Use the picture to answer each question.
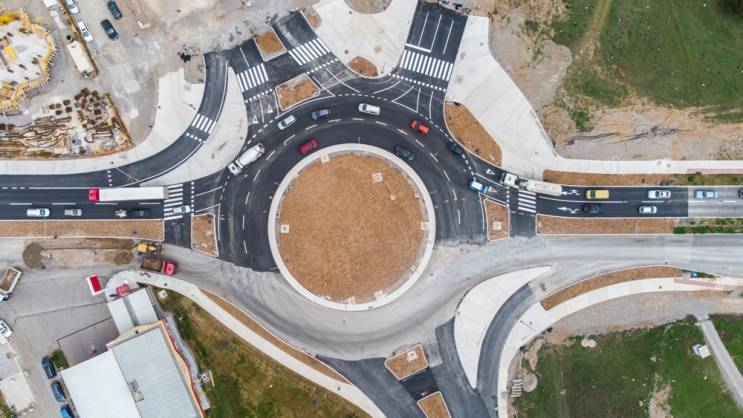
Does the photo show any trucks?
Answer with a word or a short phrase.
Yes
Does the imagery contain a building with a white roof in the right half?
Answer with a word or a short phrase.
No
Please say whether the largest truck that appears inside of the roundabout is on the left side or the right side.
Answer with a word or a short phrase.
left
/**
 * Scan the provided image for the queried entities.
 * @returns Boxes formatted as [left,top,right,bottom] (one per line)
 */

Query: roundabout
[212,86,490,311]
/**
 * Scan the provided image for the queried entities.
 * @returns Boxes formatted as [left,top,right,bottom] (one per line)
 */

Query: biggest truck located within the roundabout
[225,144,268,179]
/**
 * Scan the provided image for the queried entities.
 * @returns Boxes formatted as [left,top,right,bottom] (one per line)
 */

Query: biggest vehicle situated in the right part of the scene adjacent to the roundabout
[496,171,562,195]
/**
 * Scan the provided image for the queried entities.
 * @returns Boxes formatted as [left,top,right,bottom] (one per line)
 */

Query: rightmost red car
[409,119,431,135]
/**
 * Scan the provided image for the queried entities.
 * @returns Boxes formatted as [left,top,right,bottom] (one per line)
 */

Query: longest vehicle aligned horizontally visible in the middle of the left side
[90,187,170,203]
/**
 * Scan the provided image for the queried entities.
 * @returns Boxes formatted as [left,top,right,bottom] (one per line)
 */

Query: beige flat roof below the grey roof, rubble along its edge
[0,374,39,411]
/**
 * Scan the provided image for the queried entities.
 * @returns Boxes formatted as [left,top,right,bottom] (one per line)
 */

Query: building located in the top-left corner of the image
[0,5,62,114]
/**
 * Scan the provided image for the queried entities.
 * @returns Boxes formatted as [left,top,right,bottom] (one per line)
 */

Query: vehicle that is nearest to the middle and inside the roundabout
[393,144,415,162]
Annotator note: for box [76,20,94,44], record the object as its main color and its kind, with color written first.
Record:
white car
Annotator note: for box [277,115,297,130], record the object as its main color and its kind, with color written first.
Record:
white car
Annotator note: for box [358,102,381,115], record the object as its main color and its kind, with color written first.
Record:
white vehicle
